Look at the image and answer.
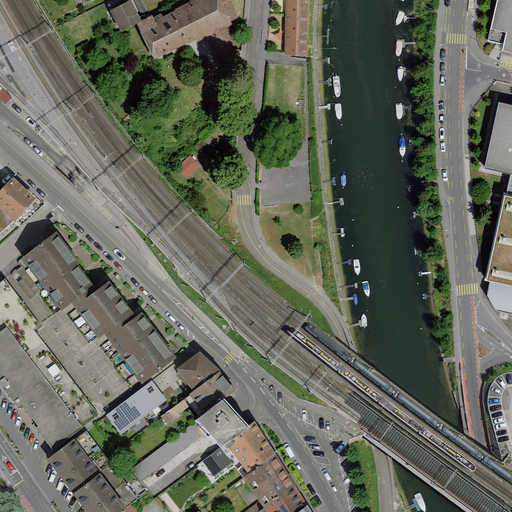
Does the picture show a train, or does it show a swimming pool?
train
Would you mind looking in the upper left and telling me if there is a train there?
No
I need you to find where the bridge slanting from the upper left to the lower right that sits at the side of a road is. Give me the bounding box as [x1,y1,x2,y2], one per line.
[334,337,512,512]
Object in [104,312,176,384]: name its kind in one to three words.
building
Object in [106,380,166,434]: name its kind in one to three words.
building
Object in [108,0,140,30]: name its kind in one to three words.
house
